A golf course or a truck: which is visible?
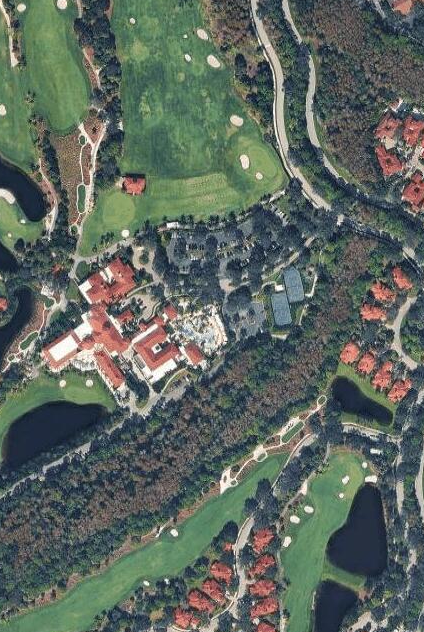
golf course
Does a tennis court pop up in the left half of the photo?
No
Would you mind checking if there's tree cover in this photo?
Yes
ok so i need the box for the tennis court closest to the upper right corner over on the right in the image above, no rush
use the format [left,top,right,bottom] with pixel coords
[284,267,304,303]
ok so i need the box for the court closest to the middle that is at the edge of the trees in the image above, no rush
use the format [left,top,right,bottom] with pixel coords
[272,293,292,325]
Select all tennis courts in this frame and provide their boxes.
[284,267,304,303]
[272,293,292,325]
